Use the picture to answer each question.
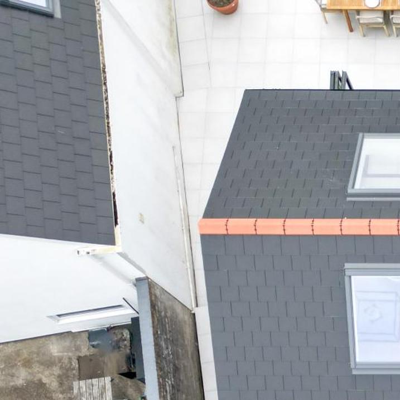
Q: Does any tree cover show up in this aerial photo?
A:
No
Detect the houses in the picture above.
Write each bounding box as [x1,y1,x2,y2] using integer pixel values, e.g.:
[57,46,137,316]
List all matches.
[194,70,400,400]
[0,0,196,343]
